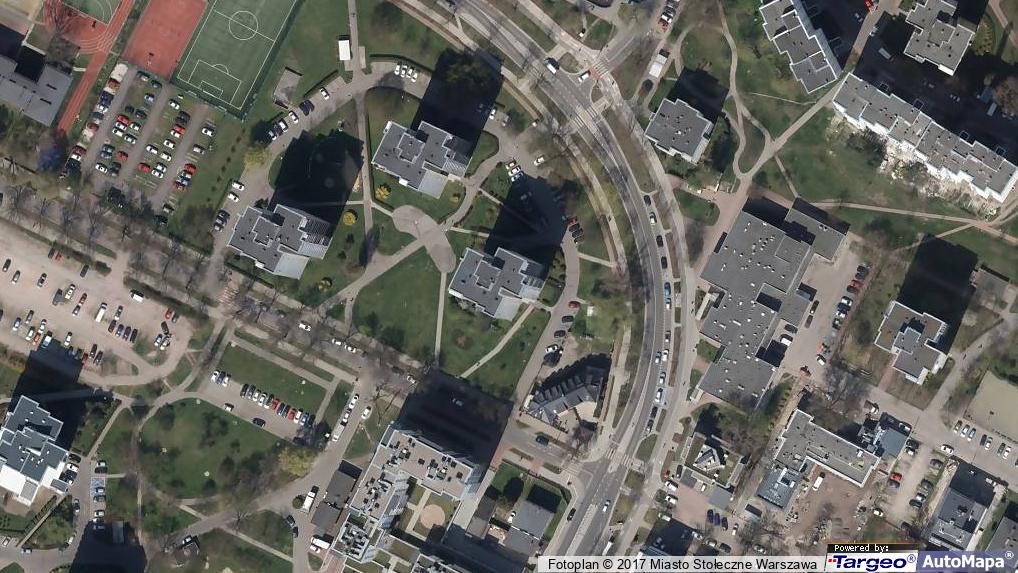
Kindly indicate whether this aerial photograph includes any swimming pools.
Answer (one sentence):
No, there appears to be no swimming pool in this shot.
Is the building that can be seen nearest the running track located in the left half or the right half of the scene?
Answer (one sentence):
The building that can be seen nearest the running track sits on the left side.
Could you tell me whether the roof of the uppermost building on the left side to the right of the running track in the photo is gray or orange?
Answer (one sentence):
In this view, the roof of the uppermost building on the left side to the right of the running track is gray.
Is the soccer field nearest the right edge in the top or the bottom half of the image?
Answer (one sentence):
Seen from above, the soccer field nearest the right edge lies in the top half of the view.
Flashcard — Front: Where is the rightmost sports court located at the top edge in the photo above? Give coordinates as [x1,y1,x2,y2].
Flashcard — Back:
[120,0,211,83]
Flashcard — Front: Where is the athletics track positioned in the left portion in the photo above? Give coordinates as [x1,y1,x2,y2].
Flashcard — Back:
[43,0,135,140]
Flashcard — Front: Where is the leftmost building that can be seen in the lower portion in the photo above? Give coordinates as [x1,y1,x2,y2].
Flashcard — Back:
[0,395,92,504]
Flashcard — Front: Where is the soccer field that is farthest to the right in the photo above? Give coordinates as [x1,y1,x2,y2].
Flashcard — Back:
[171,0,304,123]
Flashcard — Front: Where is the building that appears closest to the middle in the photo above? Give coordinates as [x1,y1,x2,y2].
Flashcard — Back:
[448,248,548,319]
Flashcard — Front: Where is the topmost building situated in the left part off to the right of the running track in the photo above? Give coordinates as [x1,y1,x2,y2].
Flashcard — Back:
[273,68,304,104]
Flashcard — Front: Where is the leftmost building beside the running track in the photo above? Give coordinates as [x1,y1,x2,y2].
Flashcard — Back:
[0,56,82,129]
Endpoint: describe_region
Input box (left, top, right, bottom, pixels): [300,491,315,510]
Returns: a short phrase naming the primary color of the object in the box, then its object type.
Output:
white vehicle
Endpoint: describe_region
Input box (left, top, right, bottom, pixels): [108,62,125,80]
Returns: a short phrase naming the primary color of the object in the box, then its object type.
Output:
white vehicle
